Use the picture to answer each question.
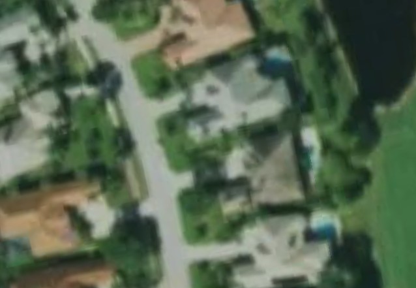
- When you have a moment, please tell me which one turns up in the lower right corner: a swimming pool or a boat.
swimming pool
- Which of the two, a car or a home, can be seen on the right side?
home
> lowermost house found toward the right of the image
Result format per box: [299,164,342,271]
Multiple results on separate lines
[233,215,332,288]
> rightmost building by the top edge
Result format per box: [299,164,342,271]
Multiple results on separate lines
[163,0,255,73]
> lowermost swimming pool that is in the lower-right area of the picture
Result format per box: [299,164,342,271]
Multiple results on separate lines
[309,209,344,241]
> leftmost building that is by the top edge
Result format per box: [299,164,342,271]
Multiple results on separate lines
[0,10,39,64]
